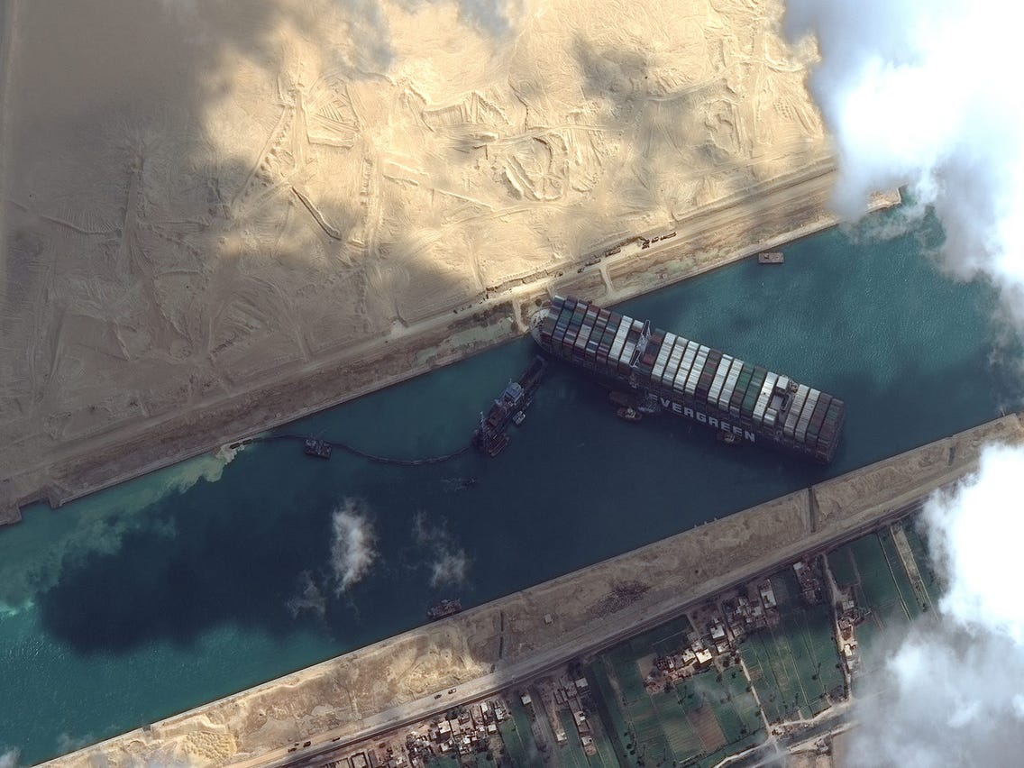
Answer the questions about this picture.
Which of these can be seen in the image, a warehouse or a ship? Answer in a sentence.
This aerial view contains a ship.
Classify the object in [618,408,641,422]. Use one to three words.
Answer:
boat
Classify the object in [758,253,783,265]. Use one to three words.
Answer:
ship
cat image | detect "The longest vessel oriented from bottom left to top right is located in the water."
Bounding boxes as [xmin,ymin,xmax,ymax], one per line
[484,361,543,448]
